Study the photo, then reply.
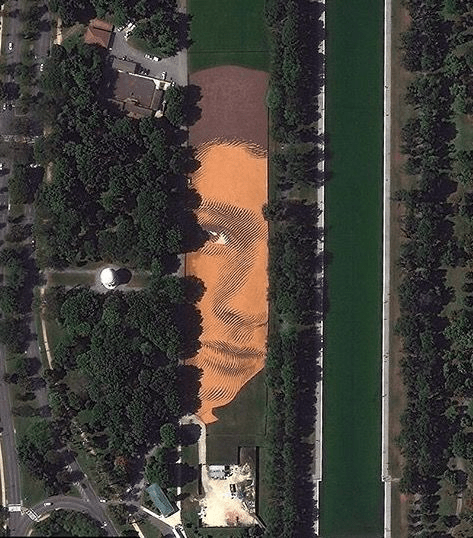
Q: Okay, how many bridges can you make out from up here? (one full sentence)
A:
There are no bridges in this view.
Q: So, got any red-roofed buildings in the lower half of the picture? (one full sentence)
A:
No, in the lower half of the picture there is no red-roofed building.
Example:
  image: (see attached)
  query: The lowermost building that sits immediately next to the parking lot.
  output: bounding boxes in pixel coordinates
[108,61,172,119]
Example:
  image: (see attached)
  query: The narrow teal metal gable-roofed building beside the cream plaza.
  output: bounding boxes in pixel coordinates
[146,484,174,518]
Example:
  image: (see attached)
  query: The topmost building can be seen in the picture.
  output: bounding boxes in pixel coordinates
[85,19,115,49]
